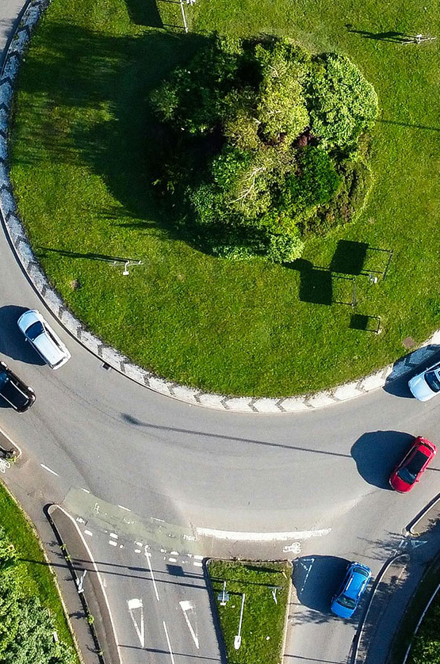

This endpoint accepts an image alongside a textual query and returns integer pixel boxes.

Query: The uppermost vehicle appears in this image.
[20,310,70,368]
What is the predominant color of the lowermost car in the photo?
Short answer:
blue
